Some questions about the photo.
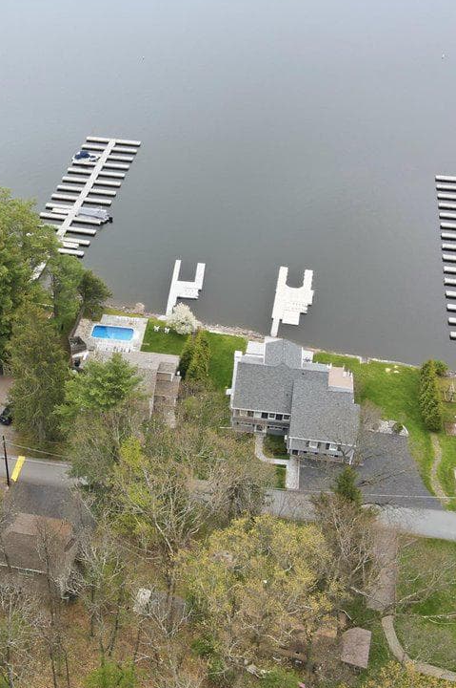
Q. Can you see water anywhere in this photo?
Yes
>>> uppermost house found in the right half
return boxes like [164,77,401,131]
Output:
[224,336,360,460]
